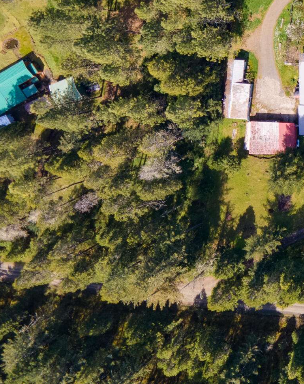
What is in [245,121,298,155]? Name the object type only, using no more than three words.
building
